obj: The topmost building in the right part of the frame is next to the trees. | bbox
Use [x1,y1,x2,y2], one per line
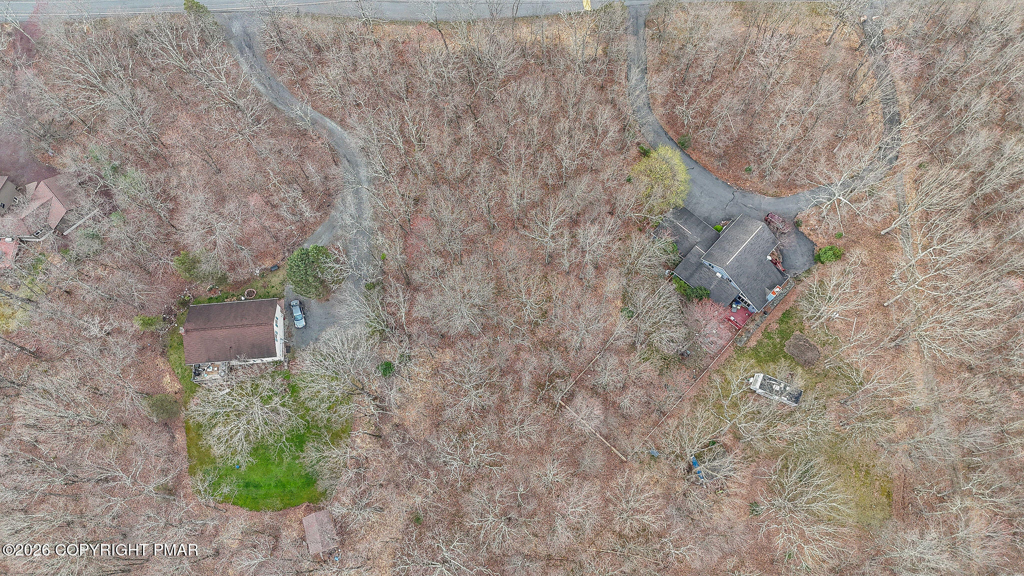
[651,207,789,316]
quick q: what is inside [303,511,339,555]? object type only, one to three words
shed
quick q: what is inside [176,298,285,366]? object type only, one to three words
house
